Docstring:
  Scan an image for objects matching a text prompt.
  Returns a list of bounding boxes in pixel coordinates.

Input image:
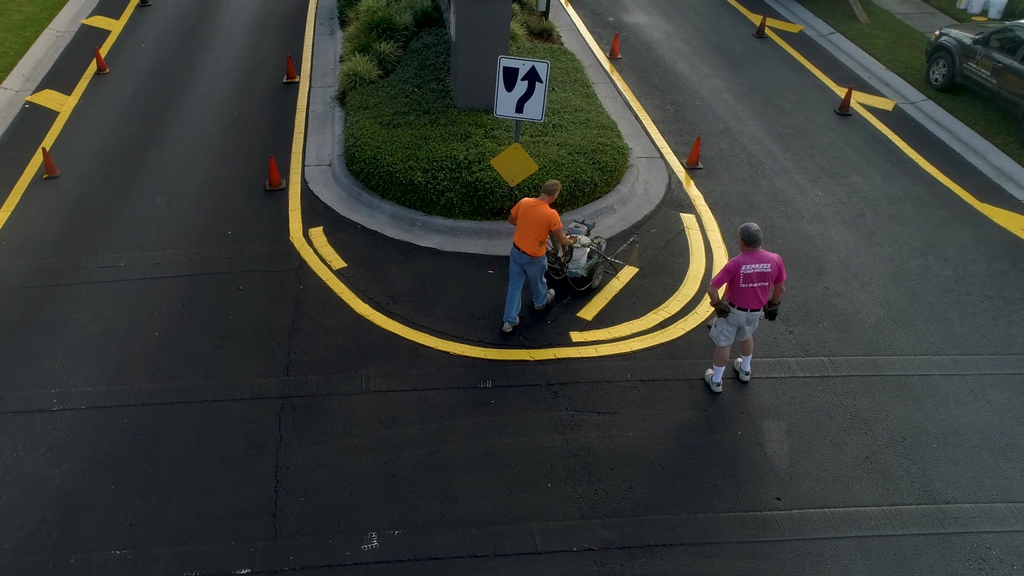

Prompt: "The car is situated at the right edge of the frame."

[915,14,1024,121]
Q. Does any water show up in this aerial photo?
No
